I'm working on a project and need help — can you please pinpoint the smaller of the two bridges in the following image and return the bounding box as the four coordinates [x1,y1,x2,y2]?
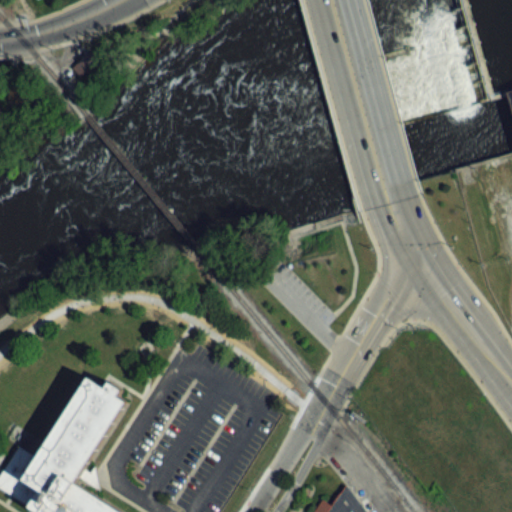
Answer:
[83,114,203,258]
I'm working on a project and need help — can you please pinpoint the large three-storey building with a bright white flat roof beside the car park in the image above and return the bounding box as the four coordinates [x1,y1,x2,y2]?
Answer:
[0,376,126,512]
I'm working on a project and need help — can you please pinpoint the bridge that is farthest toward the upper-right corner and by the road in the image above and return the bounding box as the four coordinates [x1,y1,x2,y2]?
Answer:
[298,0,424,232]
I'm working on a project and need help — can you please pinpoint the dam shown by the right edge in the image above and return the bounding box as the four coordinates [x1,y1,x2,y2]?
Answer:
[452,0,502,104]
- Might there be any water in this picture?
Yes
